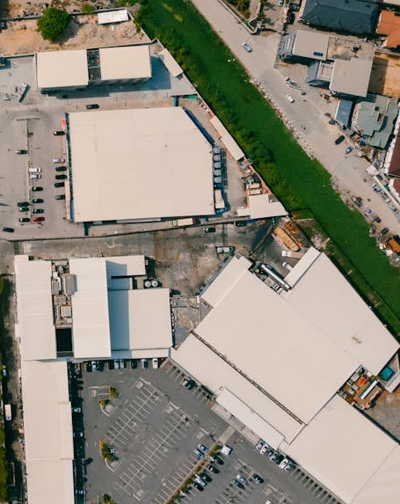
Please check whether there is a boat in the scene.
No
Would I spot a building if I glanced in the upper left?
Yes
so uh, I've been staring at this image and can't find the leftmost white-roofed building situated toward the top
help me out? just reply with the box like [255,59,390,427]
[36,51,88,91]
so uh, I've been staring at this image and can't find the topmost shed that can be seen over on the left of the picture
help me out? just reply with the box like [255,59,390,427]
[99,9,129,25]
